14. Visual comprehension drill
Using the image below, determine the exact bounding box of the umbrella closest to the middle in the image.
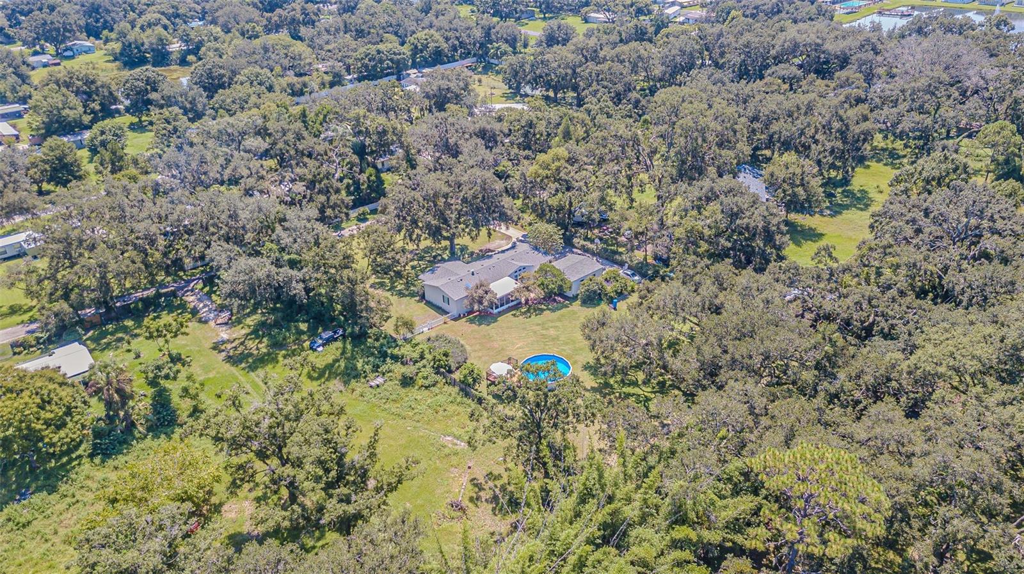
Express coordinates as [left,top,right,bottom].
[487,360,514,381]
